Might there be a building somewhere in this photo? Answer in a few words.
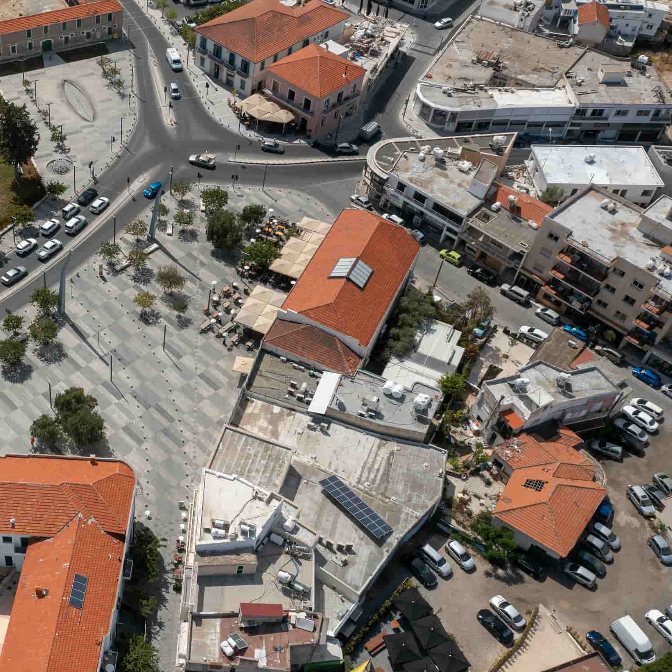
Yes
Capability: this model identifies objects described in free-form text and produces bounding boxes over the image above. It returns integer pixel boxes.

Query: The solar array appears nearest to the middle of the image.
[317,476,393,542]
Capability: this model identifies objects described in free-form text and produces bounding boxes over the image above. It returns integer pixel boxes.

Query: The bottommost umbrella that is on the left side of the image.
[233,356,253,380]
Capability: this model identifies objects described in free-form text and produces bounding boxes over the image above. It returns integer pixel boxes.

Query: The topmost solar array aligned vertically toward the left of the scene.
[68,573,88,610]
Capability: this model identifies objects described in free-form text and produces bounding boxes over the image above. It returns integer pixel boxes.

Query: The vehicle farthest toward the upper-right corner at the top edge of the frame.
[433,13,456,26]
